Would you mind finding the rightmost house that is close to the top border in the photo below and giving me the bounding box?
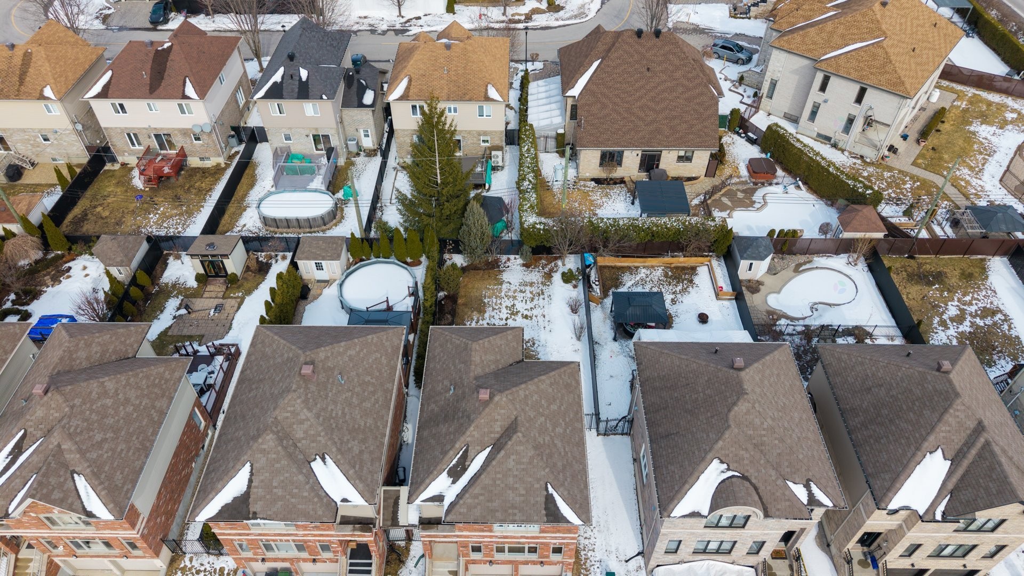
[750,0,967,171]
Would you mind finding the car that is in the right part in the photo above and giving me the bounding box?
[711,37,756,64]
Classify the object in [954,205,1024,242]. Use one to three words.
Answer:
gazebo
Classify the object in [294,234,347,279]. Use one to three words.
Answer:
shed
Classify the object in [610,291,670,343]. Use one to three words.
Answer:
gazebo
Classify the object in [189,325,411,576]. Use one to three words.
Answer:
house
